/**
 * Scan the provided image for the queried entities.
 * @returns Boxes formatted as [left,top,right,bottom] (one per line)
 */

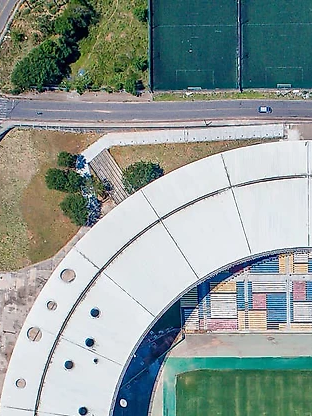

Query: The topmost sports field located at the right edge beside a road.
[243,0,312,87]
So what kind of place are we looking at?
sports ground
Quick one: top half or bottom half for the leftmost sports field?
top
